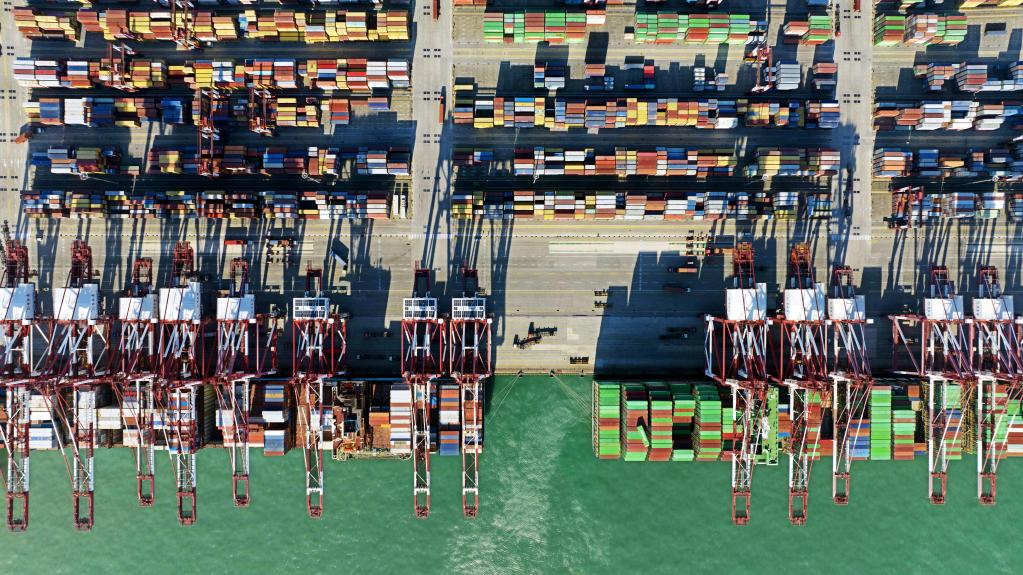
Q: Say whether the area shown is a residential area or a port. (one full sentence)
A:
This image shows a port.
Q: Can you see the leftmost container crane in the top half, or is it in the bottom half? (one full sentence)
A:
It is in the bottom half that the leftmost container crane appears.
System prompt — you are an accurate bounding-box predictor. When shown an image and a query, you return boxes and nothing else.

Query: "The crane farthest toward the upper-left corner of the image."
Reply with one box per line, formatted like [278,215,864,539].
[106,45,146,99]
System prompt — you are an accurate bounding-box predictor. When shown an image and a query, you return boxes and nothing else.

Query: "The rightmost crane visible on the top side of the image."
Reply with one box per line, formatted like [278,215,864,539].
[877,184,916,229]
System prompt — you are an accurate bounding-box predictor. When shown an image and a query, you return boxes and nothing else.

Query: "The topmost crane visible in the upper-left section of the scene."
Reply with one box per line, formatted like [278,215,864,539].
[171,0,207,55]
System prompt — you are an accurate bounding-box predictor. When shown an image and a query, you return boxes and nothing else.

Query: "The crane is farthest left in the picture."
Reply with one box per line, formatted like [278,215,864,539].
[0,241,87,529]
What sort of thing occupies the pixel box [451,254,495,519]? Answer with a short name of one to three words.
container crane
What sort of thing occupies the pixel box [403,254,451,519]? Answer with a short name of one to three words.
container crane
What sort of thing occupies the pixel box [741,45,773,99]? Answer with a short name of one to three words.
crane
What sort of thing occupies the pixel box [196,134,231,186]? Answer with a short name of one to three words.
crane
